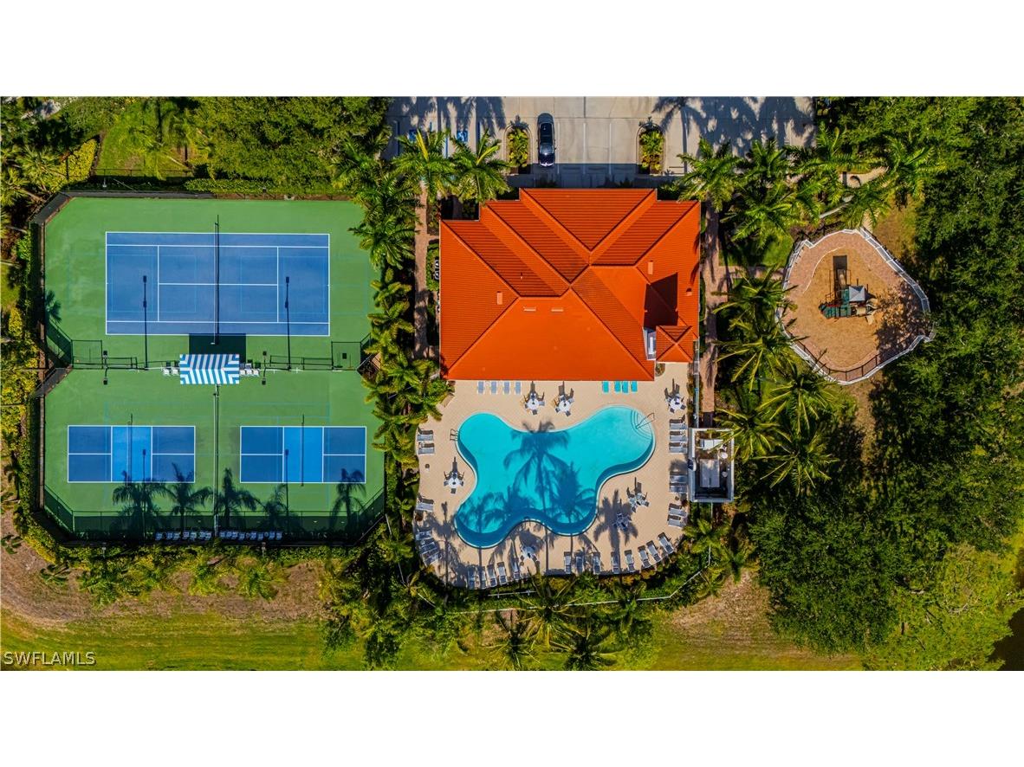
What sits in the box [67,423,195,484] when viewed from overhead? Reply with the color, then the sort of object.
blue sports court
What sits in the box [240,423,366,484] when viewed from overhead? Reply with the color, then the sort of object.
blue sports court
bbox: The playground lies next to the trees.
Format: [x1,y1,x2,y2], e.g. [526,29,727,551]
[784,231,930,381]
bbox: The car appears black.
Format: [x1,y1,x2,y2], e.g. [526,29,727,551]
[535,113,556,166]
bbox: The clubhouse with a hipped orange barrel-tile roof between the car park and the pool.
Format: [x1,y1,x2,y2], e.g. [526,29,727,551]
[439,187,701,382]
